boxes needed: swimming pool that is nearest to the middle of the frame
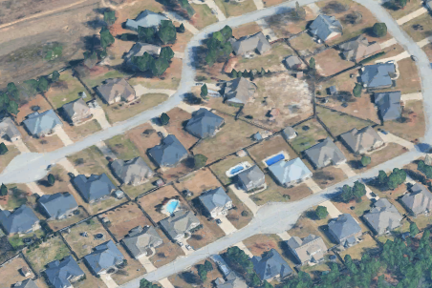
[227,163,249,176]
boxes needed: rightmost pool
[263,151,288,166]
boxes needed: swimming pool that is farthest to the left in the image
[163,197,185,212]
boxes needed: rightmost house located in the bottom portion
[397,186,432,213]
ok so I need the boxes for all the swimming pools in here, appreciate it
[227,163,249,176]
[163,197,185,212]
[263,151,288,166]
